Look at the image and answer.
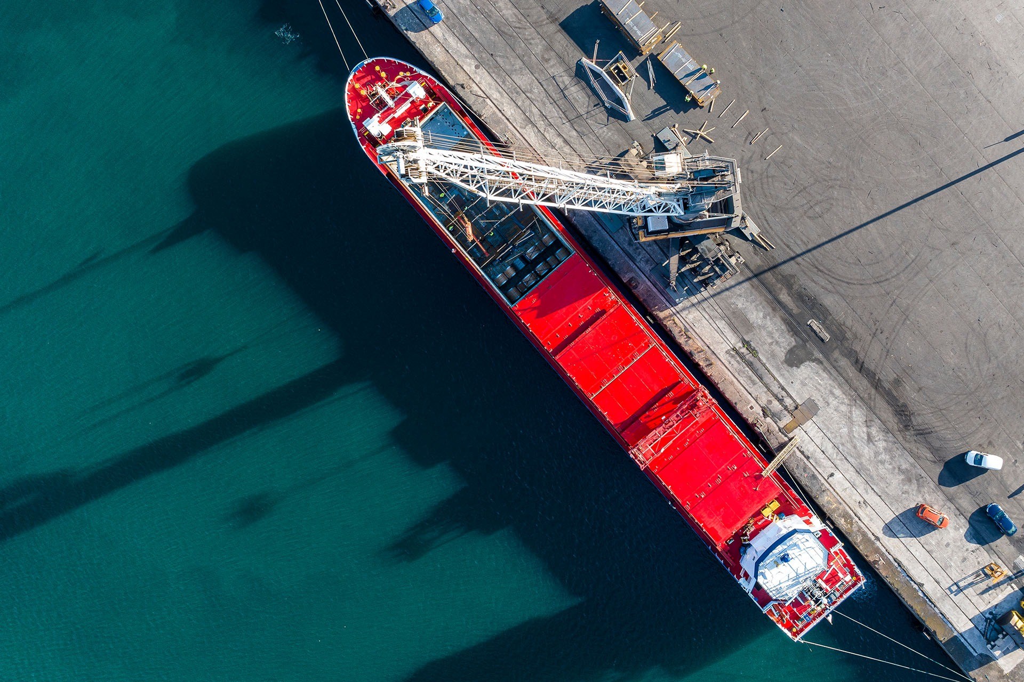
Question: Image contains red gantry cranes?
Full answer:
Yes, there's a red gantry crane here.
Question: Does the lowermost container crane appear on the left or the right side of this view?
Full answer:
The lowermost container crane sits on the right side.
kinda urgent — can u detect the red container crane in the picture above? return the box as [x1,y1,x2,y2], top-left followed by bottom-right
[620,378,725,477]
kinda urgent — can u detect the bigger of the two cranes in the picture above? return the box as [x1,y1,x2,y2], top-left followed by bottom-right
[376,111,759,293]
